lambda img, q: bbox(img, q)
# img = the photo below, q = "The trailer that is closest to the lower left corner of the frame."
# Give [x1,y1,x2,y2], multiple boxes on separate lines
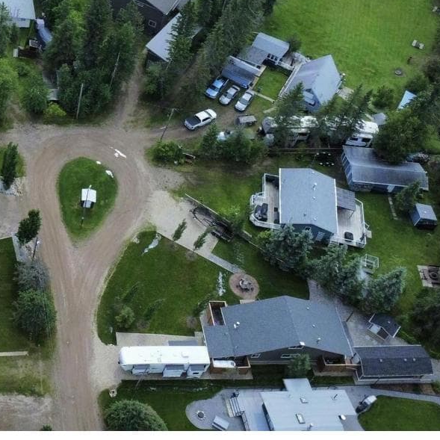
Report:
[114,345,210,382]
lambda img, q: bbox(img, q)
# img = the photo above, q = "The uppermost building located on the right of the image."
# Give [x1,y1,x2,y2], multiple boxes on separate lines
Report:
[237,33,292,71]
